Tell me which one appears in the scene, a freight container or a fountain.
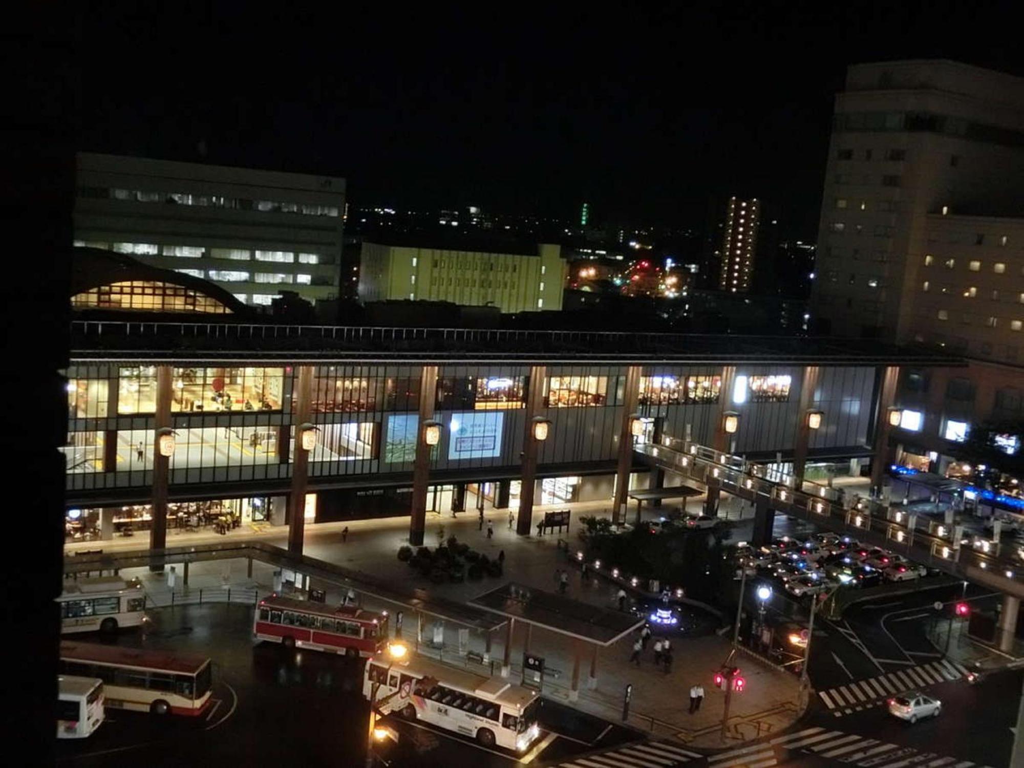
fountain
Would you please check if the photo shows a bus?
Yes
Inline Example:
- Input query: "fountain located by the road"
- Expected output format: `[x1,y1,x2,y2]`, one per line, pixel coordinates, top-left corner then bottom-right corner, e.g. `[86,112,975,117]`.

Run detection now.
[615,592,729,640]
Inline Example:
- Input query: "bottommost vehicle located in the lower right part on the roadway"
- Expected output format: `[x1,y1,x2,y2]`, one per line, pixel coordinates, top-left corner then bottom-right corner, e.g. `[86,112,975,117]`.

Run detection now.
[883,687,944,721]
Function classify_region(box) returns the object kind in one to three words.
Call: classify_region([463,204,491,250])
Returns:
building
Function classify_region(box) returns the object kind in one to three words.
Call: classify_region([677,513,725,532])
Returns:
car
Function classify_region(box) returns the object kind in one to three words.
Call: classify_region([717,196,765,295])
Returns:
building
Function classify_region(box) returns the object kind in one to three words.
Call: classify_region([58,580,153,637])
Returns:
bus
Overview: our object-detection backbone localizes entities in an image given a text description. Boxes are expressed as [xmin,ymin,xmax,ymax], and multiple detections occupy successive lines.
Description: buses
[60,640,217,714]
[58,580,153,637]
[360,638,547,748]
[254,595,396,657]
[59,675,100,737]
